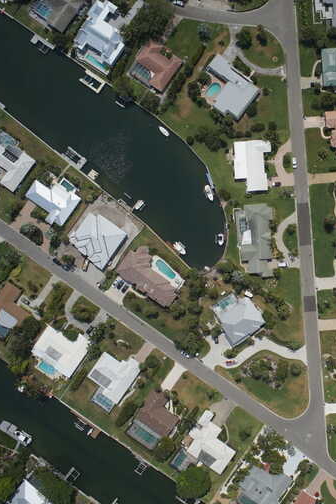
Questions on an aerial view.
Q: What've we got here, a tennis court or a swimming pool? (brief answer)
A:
swimming pool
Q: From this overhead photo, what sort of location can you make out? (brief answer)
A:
residential area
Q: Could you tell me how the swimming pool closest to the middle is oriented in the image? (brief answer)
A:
at an angle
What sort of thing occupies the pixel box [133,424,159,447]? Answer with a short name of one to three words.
swimming pool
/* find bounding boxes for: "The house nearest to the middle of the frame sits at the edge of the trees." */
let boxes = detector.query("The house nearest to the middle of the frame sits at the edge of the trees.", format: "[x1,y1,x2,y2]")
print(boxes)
[115,248,177,307]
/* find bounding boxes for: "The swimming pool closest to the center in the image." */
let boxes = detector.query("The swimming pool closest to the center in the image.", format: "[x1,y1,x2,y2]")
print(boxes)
[155,256,177,280]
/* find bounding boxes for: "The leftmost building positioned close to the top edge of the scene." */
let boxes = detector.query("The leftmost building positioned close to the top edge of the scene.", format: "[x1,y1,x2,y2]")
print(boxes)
[28,0,93,33]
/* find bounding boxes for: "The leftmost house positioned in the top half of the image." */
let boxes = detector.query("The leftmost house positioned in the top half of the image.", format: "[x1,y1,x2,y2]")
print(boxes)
[0,132,36,192]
